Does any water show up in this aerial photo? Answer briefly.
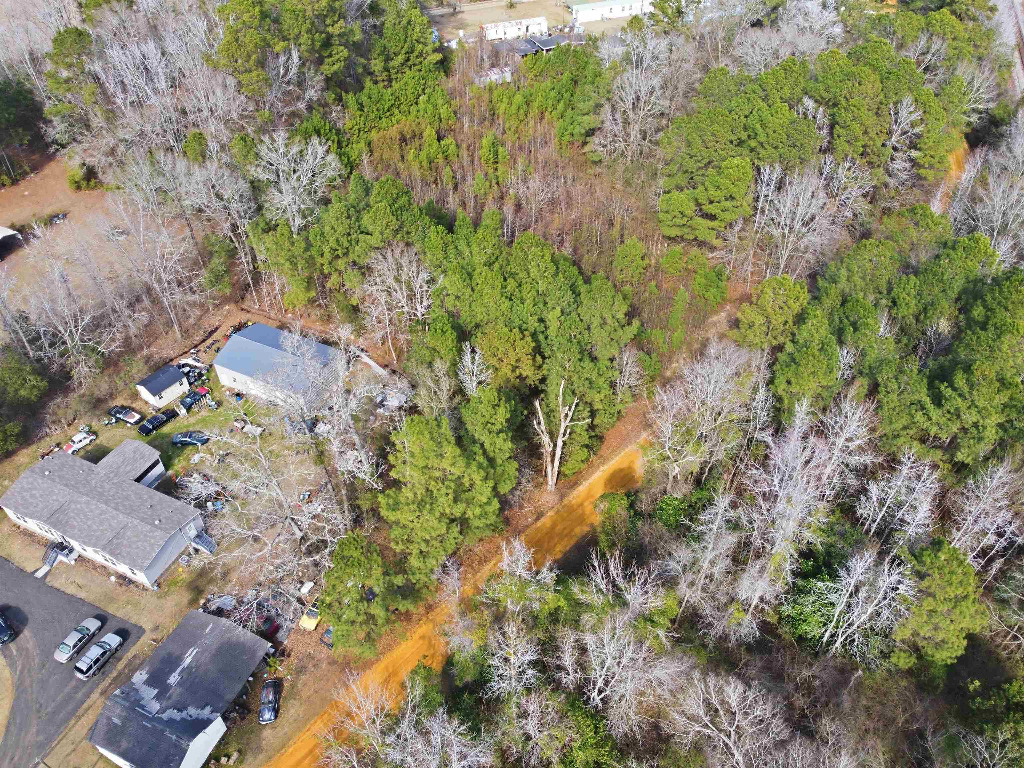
No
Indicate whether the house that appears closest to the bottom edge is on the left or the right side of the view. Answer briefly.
left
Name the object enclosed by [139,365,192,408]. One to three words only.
shed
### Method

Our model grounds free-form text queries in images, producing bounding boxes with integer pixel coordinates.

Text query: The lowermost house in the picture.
[88,607,270,768]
